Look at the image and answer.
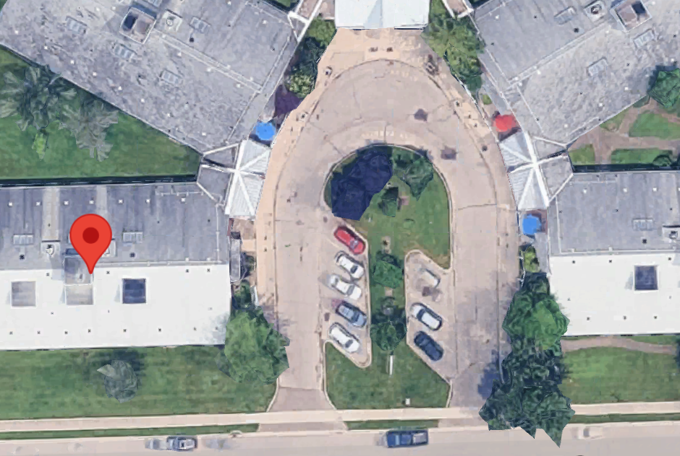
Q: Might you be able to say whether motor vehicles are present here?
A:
Yes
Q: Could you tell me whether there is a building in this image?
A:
Yes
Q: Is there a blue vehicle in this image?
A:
Yes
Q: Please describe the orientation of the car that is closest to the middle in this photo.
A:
diagonally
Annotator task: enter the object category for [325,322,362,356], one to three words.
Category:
car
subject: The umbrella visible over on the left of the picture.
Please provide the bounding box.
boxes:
[254,120,275,142]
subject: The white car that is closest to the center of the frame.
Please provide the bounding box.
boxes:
[332,251,366,283]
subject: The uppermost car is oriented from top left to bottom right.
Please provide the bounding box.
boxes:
[333,223,368,256]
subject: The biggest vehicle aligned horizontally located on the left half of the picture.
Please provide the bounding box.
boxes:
[165,436,198,453]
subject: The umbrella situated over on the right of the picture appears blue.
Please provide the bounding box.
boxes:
[520,213,541,235]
